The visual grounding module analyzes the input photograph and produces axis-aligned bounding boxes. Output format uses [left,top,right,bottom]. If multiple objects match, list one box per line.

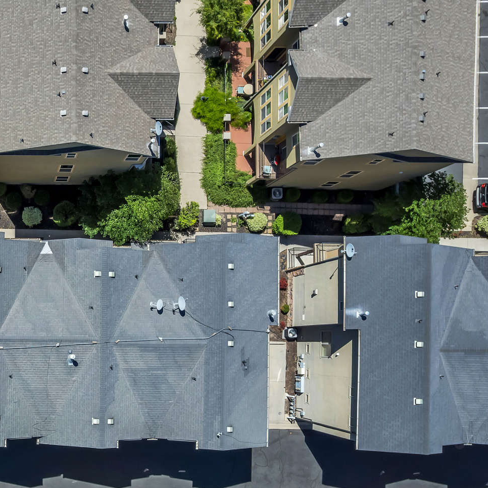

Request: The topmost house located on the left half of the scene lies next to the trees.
[0,0,180,183]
